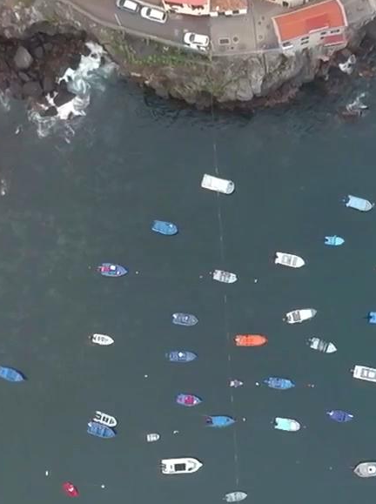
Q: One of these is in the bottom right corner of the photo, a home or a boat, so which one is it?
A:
boat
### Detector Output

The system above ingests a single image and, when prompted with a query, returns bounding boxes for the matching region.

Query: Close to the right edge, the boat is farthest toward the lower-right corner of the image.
[354,462,376,478]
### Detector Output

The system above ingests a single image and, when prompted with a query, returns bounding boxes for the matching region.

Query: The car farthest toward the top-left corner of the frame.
[113,0,141,13]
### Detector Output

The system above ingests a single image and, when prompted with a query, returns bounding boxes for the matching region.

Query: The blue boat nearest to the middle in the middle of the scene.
[150,219,178,234]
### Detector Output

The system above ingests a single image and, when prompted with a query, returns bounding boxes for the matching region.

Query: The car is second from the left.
[138,4,167,23]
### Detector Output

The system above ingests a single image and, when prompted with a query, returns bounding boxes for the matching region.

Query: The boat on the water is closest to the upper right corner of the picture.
[341,194,375,210]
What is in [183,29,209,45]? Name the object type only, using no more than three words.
car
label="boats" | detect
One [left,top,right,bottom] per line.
[203,416,235,428]
[147,433,159,441]
[213,270,238,282]
[304,336,336,351]
[150,219,178,234]
[0,365,23,380]
[162,351,195,361]
[201,174,233,192]
[230,334,267,346]
[347,365,376,381]
[363,311,376,323]
[262,377,293,389]
[94,263,128,276]
[62,480,77,495]
[166,312,198,324]
[269,417,300,430]
[82,421,114,435]
[324,235,345,245]
[156,458,203,475]
[354,462,376,478]
[229,380,242,386]
[90,409,117,426]
[175,394,202,406]
[341,194,375,210]
[270,251,305,266]
[220,492,246,503]
[86,334,113,345]
[280,310,316,324]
